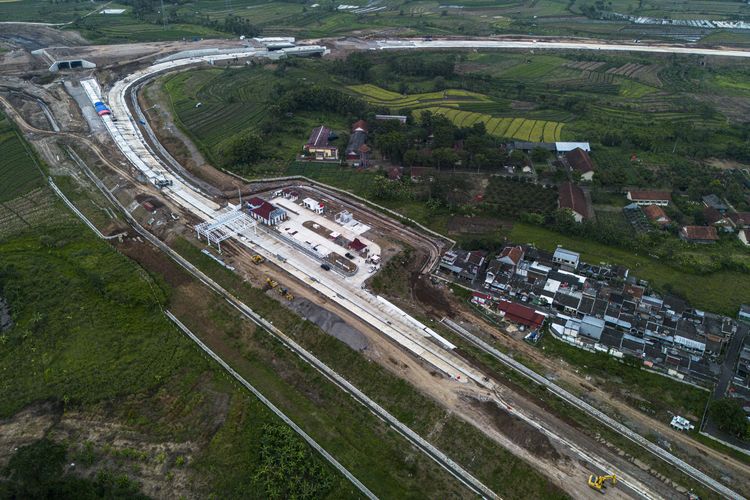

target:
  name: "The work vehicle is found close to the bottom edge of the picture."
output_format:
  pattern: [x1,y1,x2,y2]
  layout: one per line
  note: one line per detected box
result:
[587,471,621,490]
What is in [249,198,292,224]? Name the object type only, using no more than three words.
building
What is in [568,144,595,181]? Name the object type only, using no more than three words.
house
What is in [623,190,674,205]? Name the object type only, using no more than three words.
house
